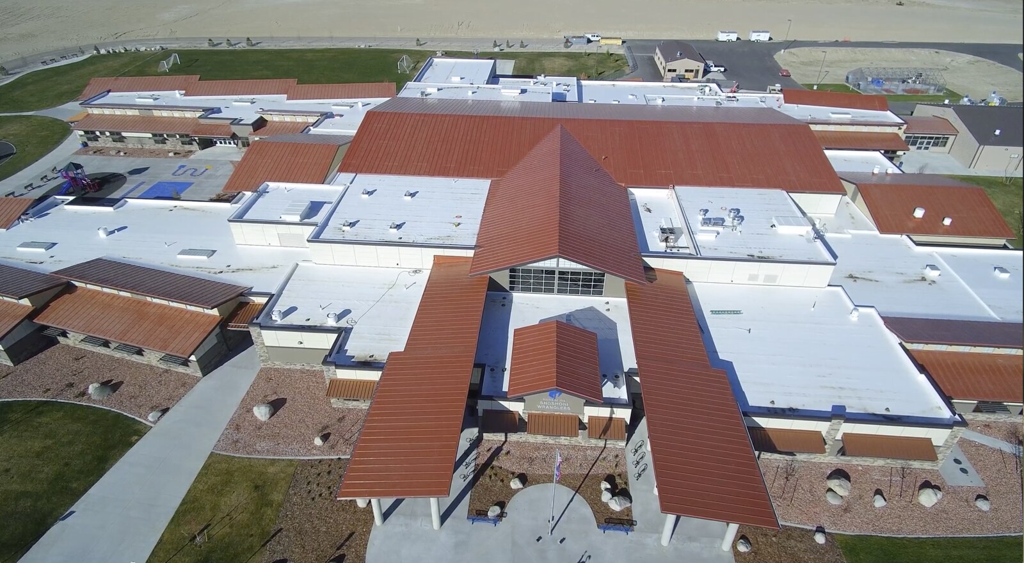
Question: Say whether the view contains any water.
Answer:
No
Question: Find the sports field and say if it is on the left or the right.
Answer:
left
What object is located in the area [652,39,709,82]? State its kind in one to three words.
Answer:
building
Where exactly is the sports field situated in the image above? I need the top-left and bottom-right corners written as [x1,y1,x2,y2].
[0,49,628,113]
